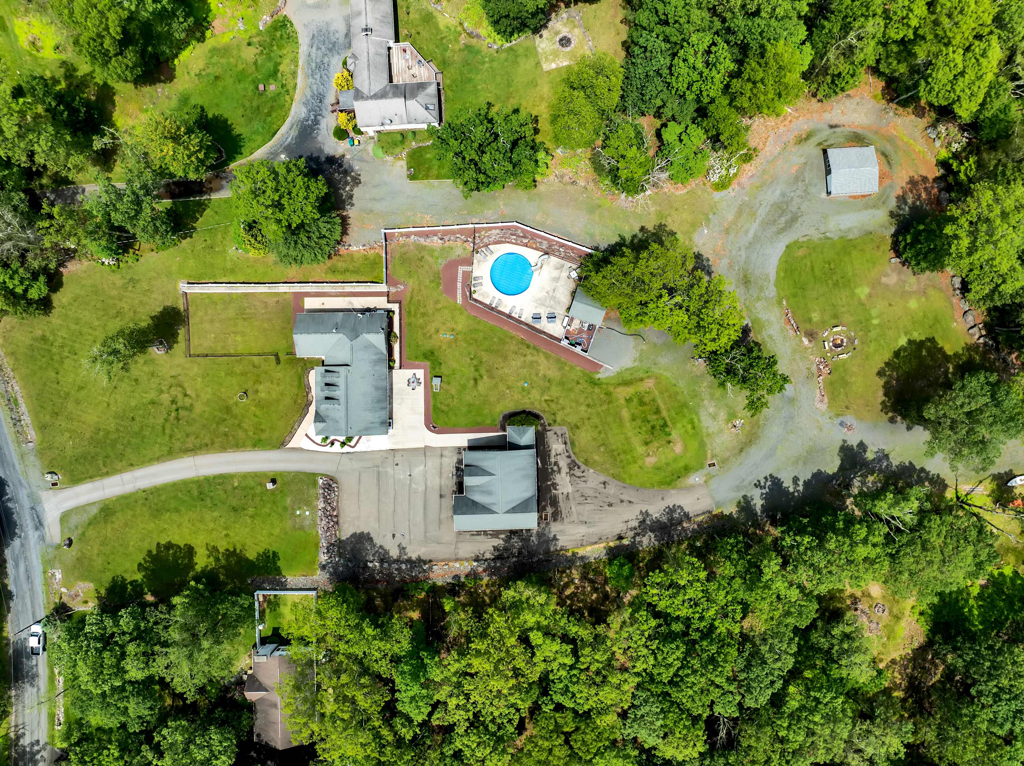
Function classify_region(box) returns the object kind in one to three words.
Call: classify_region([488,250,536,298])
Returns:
swimming pool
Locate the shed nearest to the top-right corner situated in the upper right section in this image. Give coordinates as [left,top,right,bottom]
[821,146,878,197]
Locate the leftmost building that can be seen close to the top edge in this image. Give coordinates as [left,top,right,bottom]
[338,0,439,134]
